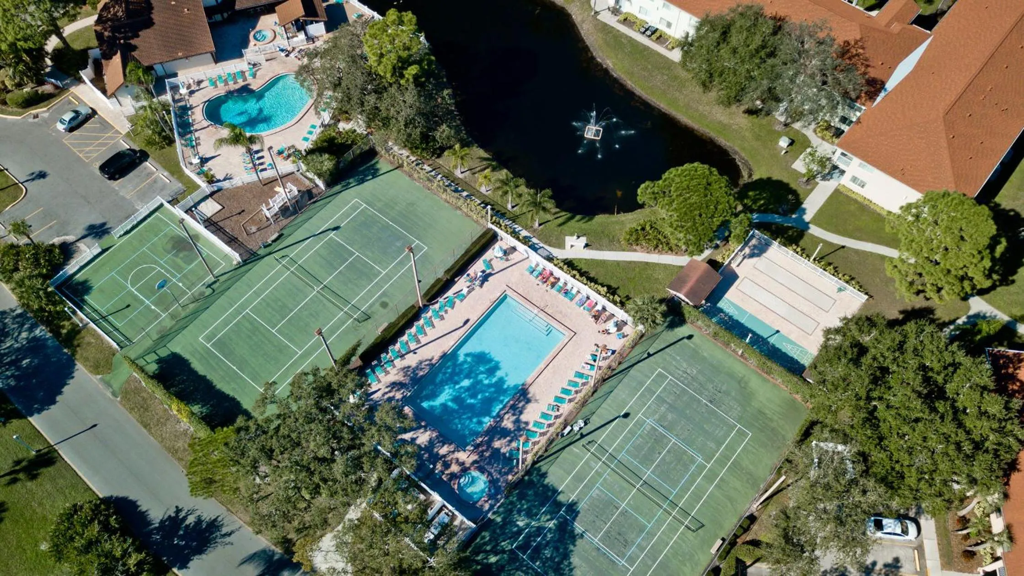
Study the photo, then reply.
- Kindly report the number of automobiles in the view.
3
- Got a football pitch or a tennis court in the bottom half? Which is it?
tennis court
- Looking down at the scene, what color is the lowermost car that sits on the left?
black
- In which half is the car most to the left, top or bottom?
top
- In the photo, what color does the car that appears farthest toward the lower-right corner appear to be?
white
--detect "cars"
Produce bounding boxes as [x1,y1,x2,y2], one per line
[866,516,920,541]
[55,104,95,132]
[98,148,142,179]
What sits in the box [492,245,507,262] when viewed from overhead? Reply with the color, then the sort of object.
white umbrella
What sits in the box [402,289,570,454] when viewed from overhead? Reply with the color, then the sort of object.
blue swimming pool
